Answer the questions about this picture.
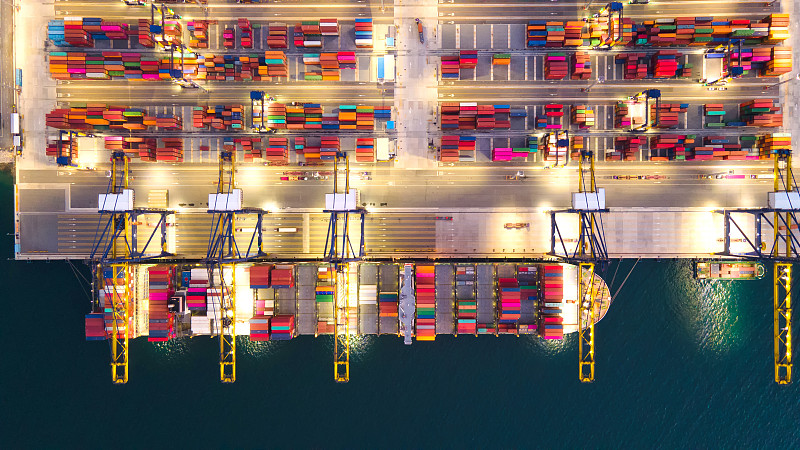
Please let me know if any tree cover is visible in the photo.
No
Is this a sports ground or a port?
port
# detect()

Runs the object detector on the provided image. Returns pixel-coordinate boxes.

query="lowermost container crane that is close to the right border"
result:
[712,151,800,384]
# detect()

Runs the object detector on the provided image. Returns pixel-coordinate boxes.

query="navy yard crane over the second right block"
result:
[706,39,743,88]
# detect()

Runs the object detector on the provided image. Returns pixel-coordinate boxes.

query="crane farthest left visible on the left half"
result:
[57,129,94,172]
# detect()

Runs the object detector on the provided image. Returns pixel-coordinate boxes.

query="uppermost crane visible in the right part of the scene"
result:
[594,0,623,54]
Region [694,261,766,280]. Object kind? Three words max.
ship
